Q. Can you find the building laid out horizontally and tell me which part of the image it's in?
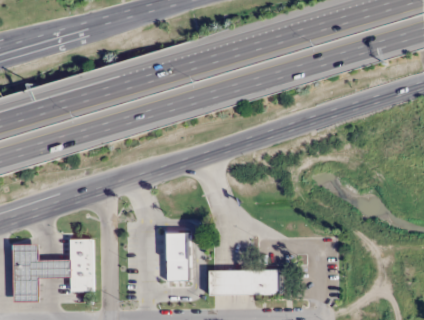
bottom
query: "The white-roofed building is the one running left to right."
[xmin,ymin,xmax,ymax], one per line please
[208,270,281,296]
